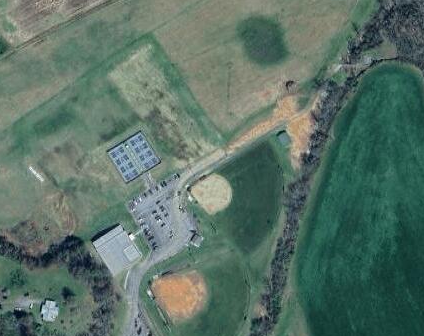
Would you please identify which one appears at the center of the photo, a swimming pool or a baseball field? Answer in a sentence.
What appears at the center of the photo is a baseball field.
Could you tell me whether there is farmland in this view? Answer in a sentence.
Yes, farmland shows up in the scene.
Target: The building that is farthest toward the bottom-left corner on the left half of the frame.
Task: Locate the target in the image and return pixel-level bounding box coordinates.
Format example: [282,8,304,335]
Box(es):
[41,300,59,321]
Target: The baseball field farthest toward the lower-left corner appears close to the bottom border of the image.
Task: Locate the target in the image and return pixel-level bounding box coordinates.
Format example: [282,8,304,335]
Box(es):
[146,252,250,336]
